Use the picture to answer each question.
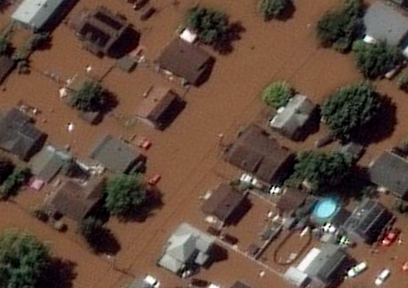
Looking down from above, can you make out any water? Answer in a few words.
Yes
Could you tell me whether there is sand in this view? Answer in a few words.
No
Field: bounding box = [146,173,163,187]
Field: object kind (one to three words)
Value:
car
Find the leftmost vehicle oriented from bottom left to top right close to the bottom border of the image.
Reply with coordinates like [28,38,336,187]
[347,262,366,279]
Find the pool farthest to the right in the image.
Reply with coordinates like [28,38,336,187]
[314,198,338,221]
